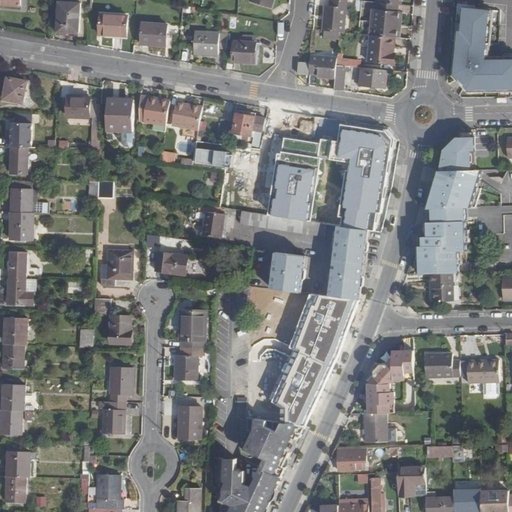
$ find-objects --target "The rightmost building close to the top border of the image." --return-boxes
[450,2,512,103]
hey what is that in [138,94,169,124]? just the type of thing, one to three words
house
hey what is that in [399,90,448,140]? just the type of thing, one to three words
roundabout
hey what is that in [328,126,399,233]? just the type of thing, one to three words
building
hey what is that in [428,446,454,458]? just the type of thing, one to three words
shed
